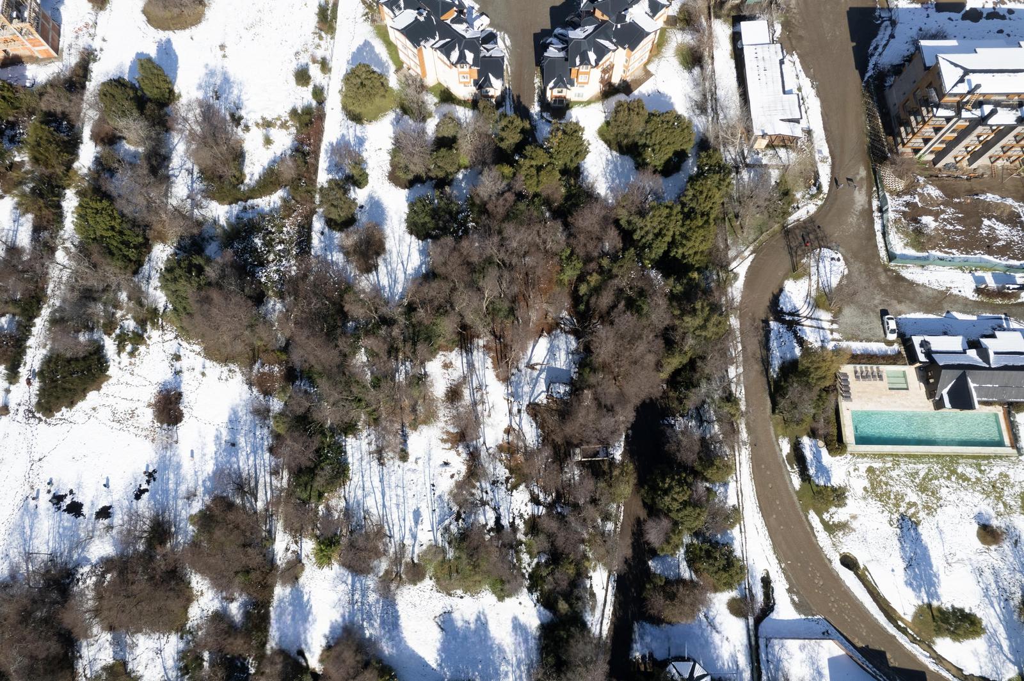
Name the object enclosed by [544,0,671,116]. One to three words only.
house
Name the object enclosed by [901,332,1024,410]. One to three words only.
building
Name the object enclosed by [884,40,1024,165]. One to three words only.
building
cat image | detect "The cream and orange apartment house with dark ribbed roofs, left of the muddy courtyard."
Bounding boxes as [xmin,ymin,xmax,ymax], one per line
[379,0,505,115]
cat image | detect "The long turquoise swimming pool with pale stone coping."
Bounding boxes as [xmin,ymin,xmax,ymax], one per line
[850,409,1007,448]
